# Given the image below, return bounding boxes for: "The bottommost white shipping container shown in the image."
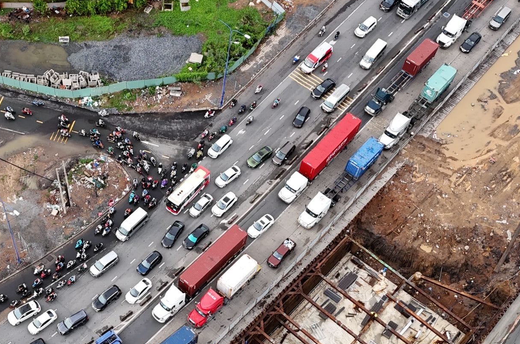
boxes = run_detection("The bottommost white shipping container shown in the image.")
[215,251,261,300]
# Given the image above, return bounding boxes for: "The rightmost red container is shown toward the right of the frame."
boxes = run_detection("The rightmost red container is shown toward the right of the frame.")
[400,38,439,79]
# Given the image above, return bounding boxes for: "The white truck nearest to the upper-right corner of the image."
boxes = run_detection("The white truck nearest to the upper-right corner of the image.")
[432,12,469,48]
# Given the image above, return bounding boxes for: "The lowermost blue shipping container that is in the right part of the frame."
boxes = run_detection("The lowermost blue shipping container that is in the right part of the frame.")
[342,134,386,179]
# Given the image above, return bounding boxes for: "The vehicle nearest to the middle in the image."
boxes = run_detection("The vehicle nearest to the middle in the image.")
[247,144,276,170]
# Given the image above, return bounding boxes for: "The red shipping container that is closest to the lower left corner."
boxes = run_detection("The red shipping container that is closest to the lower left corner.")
[177,222,250,300]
